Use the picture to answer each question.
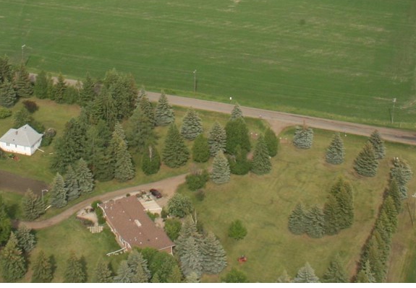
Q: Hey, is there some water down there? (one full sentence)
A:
No, the picture contains no water.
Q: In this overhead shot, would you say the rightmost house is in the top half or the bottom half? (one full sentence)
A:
The rightmost house sits in the bottom half of the picture.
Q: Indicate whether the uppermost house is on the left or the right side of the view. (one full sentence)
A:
The uppermost house sits on the left side.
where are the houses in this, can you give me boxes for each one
[0,122,47,155]
[95,193,171,260]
